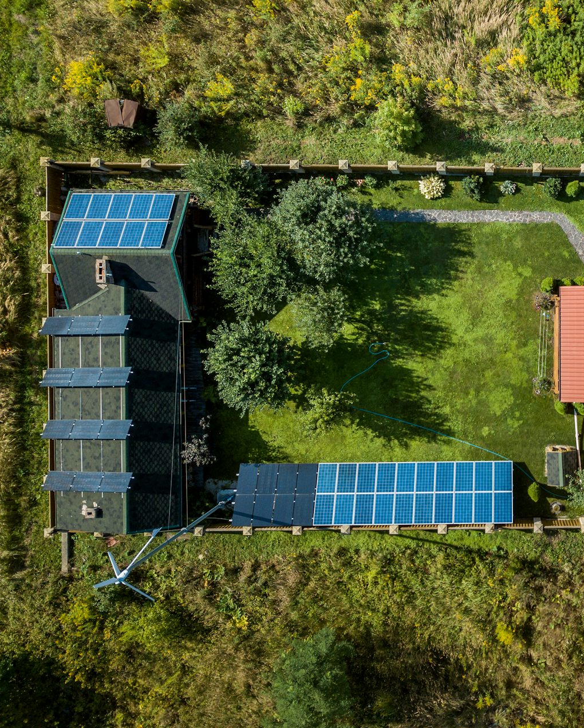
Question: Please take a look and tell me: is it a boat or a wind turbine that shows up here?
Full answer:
Visible in the photo is a wind turbine.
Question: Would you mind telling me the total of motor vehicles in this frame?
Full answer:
The photo contains no motor vehicles.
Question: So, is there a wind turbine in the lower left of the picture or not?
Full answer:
Yes, a wind turbine is visible in the lower left of the picture.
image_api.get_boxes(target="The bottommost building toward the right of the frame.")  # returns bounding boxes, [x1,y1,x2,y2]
[548,447,576,489]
